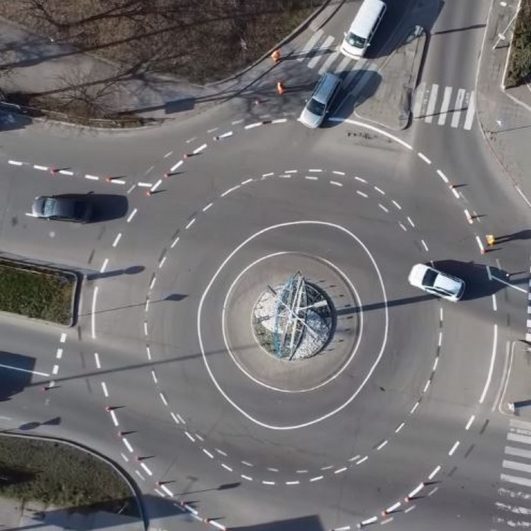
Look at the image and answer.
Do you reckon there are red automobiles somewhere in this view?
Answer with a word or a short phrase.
No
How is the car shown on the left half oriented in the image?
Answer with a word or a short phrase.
from left to right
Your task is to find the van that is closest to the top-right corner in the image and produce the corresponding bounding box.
[341,0,387,61]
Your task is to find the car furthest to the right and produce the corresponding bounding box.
[408,263,465,302]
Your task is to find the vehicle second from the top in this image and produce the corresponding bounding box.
[301,74,341,130]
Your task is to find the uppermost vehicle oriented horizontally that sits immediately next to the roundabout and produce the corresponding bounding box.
[32,193,92,222]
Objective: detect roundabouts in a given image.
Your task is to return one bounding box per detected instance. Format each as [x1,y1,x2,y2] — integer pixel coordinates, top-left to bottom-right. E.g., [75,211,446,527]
[78,111,510,531]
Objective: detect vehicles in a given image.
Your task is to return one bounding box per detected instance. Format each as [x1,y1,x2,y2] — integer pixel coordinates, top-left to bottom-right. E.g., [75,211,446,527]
[341,0,387,61]
[32,193,92,222]
[408,263,465,302]
[301,74,341,130]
